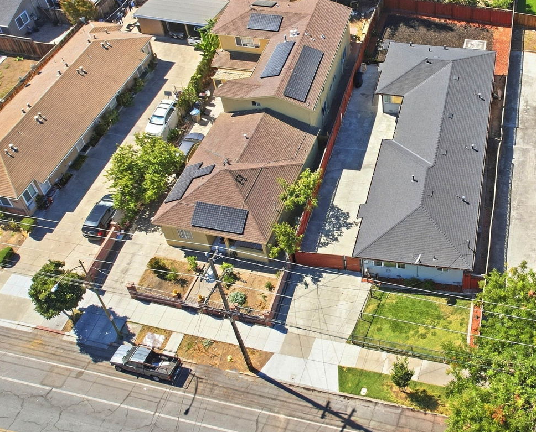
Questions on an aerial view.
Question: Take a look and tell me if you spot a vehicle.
Yes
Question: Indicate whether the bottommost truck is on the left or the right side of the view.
left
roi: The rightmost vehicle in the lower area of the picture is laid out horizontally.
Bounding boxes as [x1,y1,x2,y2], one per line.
[109,340,185,385]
